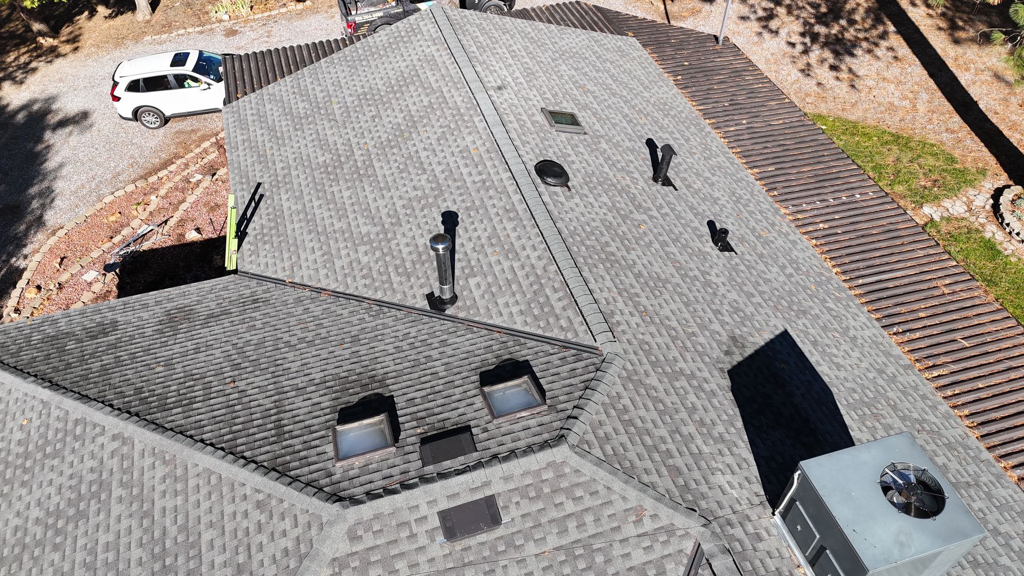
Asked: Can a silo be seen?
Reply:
No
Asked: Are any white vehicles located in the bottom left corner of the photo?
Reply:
No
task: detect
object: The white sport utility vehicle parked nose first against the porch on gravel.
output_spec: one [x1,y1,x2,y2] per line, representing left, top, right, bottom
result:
[109,46,226,132]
